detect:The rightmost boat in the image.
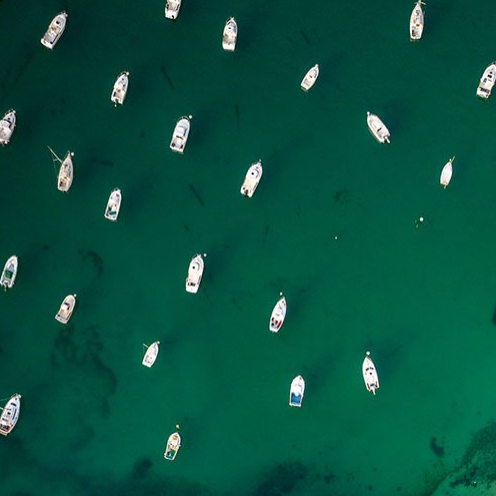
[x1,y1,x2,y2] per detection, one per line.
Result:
[476,62,496,102]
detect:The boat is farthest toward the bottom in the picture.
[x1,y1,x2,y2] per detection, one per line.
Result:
[164,430,182,461]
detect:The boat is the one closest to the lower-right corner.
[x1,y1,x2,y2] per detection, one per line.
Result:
[362,357,380,394]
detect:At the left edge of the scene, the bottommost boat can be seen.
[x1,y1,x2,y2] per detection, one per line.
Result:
[0,394,22,436]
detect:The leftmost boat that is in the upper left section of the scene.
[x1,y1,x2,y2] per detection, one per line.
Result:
[0,109,17,145]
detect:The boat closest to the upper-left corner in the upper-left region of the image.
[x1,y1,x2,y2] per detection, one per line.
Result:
[42,12,68,51]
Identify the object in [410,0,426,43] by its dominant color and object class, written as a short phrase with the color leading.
white boat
